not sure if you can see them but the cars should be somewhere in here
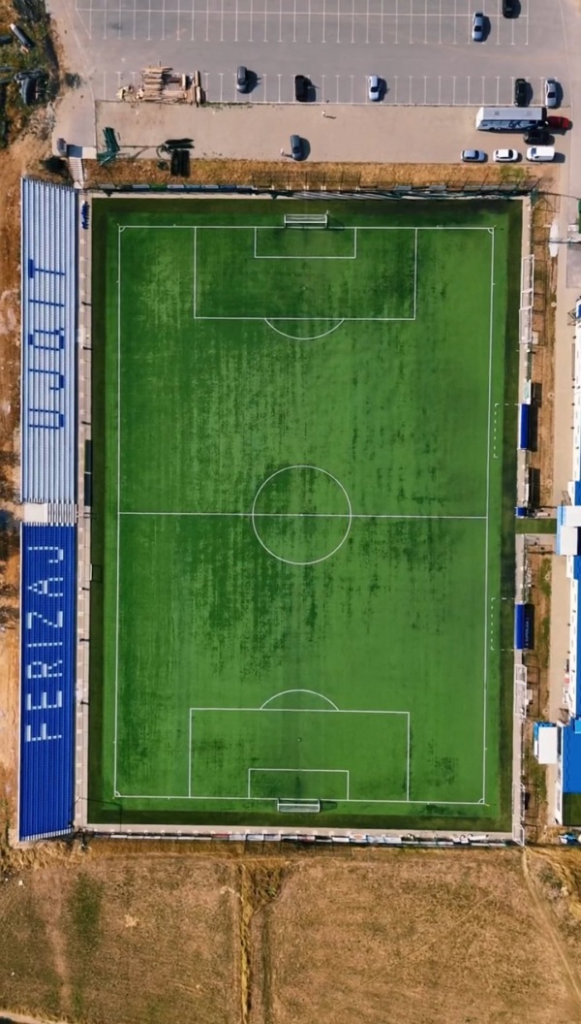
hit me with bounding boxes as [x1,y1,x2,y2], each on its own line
[516,78,529,106]
[472,13,484,41]
[521,130,548,145]
[296,74,309,102]
[545,80,558,107]
[461,150,484,163]
[545,116,572,131]
[292,135,303,160]
[502,0,515,19]
[494,149,517,163]
[236,65,249,93]
[369,76,381,101]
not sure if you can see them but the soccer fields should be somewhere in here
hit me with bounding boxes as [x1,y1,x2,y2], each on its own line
[87,198,523,833]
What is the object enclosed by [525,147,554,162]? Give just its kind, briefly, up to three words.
vehicle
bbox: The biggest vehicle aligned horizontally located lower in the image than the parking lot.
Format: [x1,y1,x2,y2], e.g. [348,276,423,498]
[477,107,549,132]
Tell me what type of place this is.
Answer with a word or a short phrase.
sports ground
